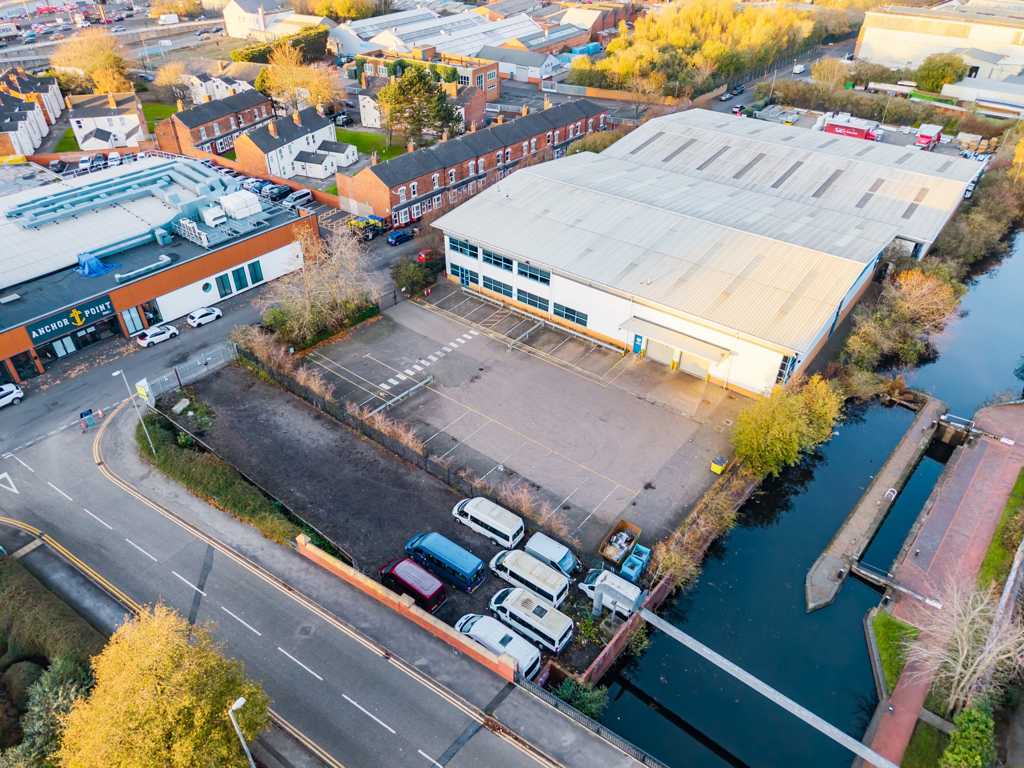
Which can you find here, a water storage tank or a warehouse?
warehouse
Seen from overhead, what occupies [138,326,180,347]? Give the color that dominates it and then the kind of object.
white car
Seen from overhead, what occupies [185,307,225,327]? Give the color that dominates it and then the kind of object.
white car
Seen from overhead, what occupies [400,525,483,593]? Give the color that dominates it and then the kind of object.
blue vehicle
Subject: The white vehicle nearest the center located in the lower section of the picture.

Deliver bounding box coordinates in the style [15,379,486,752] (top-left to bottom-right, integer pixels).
[442,487,518,546]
